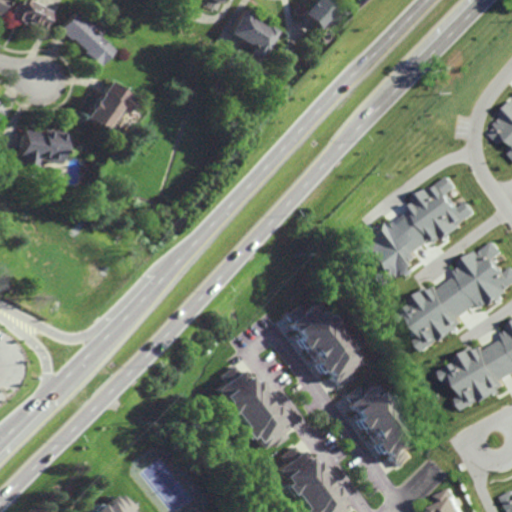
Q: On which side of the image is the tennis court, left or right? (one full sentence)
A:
The tennis court is on the left side of the image.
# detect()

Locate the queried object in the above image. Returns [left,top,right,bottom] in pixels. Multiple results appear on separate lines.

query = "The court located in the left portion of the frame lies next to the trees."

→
[134,442,200,512]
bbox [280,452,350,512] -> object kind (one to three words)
building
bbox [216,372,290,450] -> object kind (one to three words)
building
